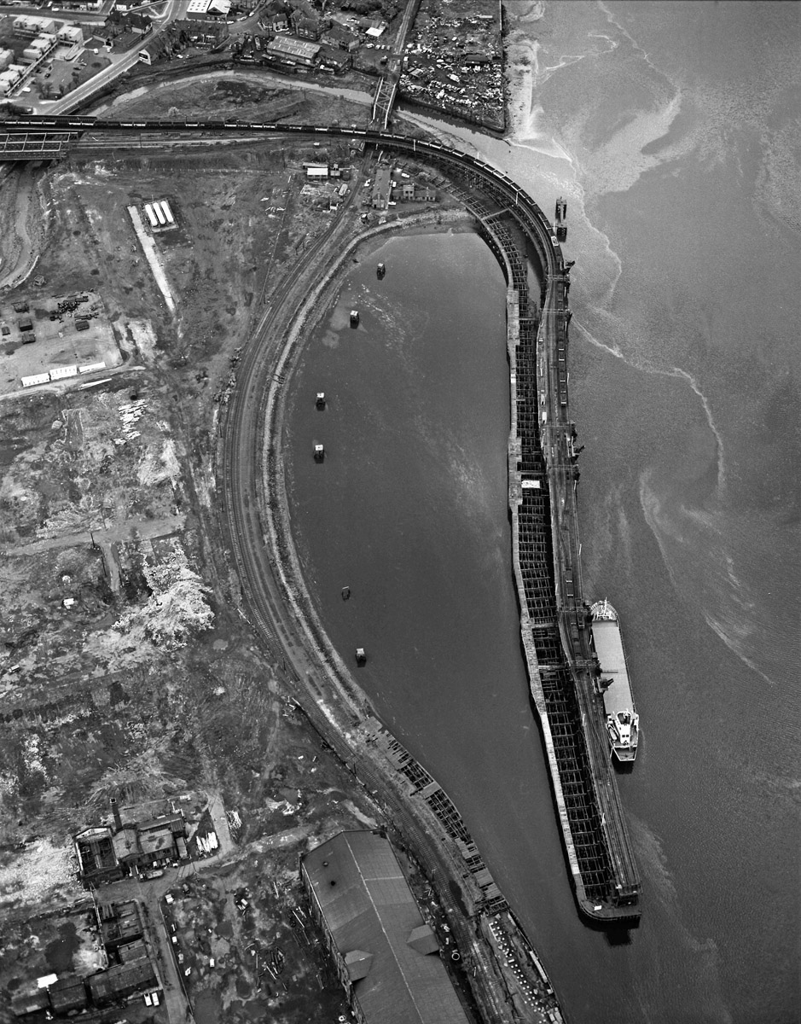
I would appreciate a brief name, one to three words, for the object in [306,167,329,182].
building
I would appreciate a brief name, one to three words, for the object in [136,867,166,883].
vehicle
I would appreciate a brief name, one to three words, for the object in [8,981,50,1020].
shed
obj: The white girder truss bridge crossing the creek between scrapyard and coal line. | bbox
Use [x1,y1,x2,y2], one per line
[373,78,397,129]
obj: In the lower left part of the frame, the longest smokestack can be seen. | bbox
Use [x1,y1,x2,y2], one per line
[109,797,125,830]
